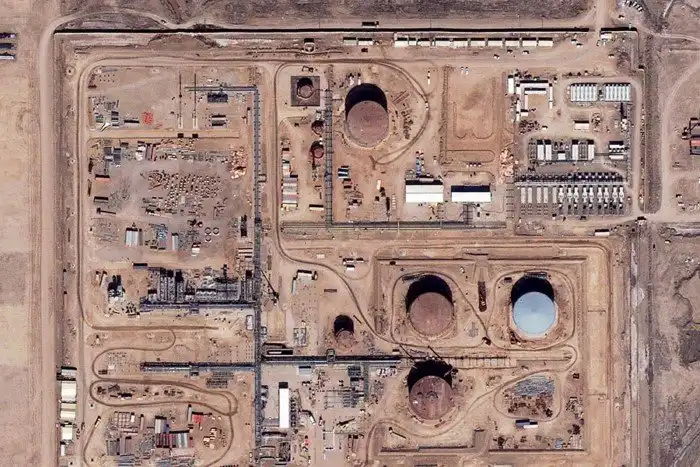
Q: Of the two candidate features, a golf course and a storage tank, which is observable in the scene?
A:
storage tank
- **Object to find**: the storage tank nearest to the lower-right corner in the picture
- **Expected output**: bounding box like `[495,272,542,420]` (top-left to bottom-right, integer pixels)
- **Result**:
[511,291,558,338]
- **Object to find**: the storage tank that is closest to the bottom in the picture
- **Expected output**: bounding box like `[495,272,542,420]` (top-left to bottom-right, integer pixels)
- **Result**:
[407,375,455,424]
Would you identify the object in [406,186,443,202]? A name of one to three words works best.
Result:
building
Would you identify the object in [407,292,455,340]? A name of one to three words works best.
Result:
storage tank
